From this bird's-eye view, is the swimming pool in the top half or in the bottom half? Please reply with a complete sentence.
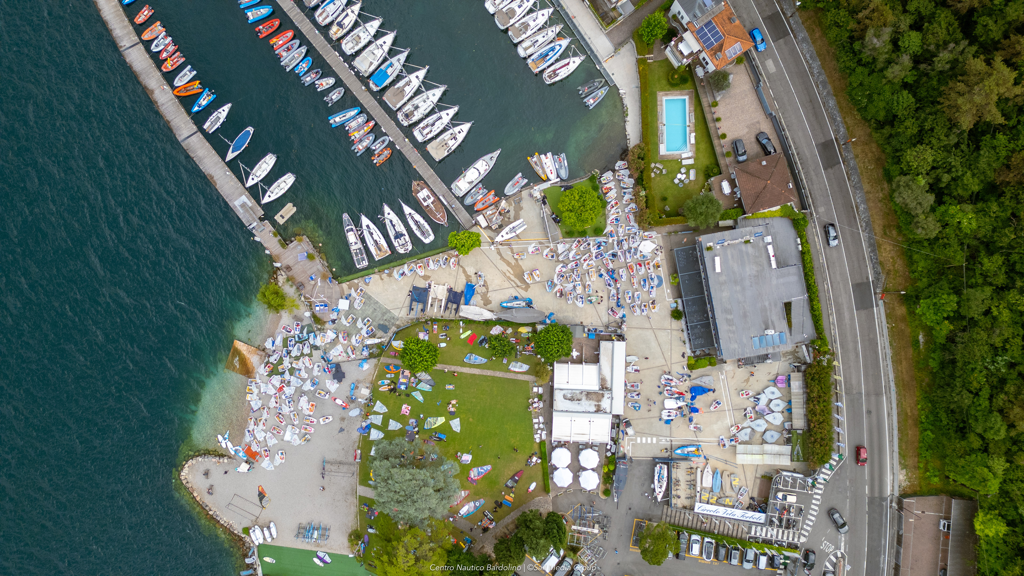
The swimming pool is in the top half of the image.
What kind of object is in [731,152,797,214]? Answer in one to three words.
house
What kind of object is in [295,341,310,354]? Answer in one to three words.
boat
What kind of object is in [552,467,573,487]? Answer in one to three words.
umbrella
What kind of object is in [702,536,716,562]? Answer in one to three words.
car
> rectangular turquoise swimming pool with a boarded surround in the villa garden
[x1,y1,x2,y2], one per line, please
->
[657,90,695,160]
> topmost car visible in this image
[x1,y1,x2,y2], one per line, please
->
[748,27,766,53]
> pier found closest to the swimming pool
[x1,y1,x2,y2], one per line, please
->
[551,0,614,86]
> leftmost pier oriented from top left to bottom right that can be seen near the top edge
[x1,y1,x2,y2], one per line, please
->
[93,0,264,227]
